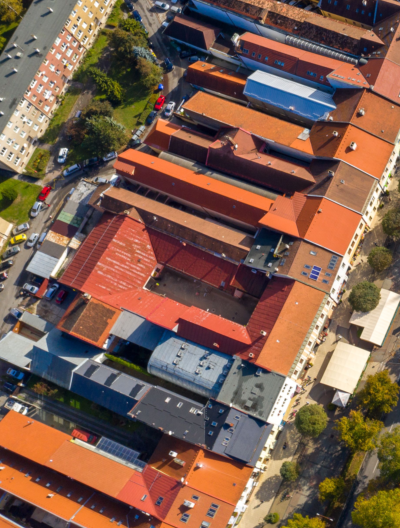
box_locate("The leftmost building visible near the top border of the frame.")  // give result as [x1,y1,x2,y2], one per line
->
[0,0,118,174]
